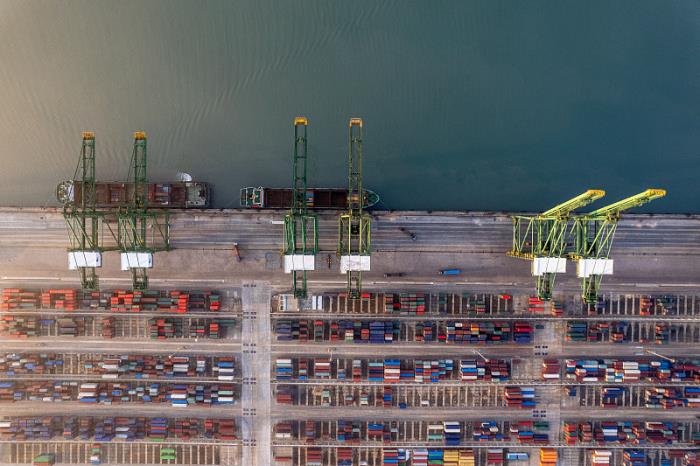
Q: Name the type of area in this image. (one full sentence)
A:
The picture captures a port.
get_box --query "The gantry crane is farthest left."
[59,128,133,290]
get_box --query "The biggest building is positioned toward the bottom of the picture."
[278,294,297,311]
